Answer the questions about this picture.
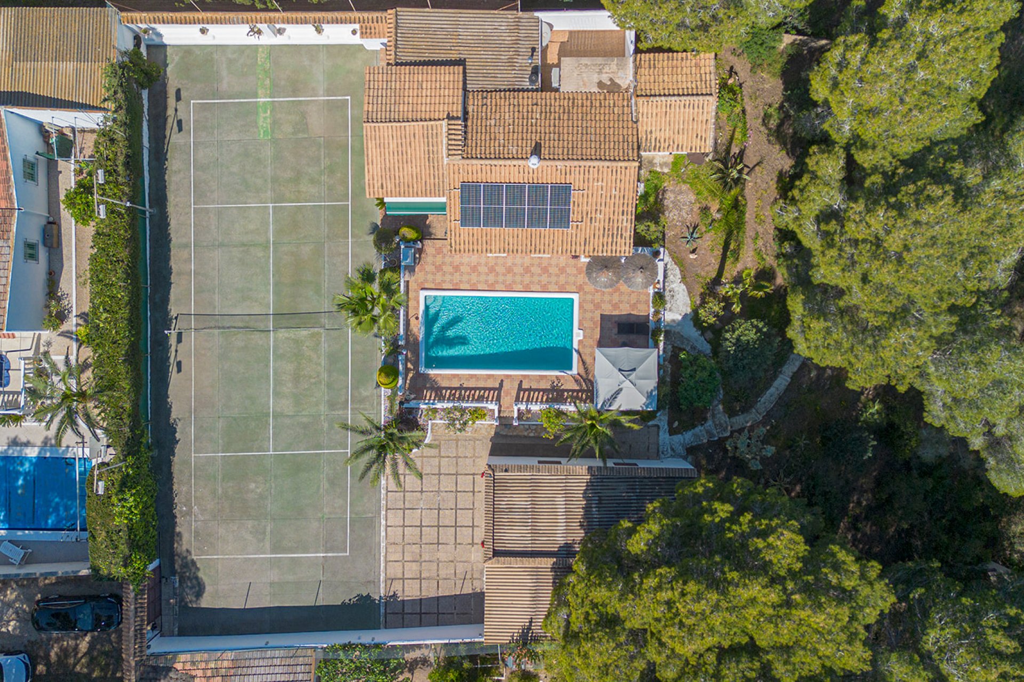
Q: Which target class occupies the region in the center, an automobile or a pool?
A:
pool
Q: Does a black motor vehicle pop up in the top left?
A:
No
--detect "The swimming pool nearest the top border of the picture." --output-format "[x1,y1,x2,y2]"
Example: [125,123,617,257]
[420,291,582,377]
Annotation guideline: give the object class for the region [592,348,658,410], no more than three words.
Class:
gazebo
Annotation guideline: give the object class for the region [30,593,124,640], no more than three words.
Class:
car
